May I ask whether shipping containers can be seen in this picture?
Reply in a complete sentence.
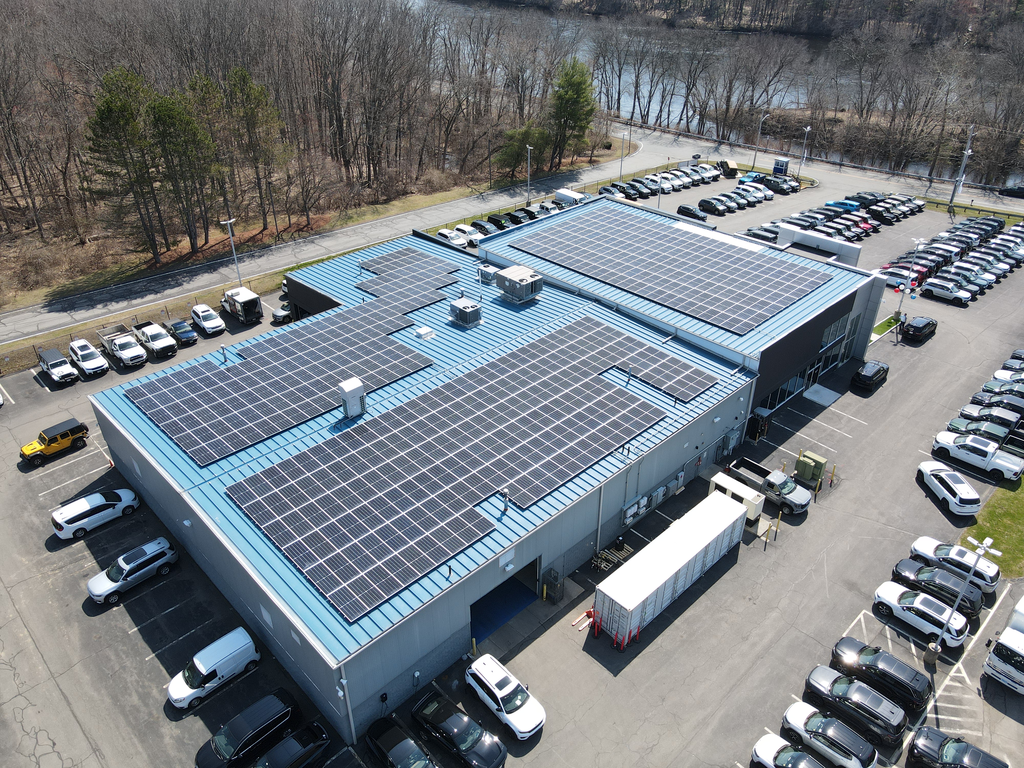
Yes, there is a shipping container in the image.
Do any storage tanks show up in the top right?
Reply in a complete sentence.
No, in the top right there is no storage tank.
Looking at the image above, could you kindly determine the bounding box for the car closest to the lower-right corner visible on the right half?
[910,723,1020,768]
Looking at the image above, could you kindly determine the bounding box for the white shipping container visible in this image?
[594,490,748,645]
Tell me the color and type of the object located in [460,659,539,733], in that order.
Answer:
white car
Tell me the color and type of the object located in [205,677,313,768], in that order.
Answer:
black car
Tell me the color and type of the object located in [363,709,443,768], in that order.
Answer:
black car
